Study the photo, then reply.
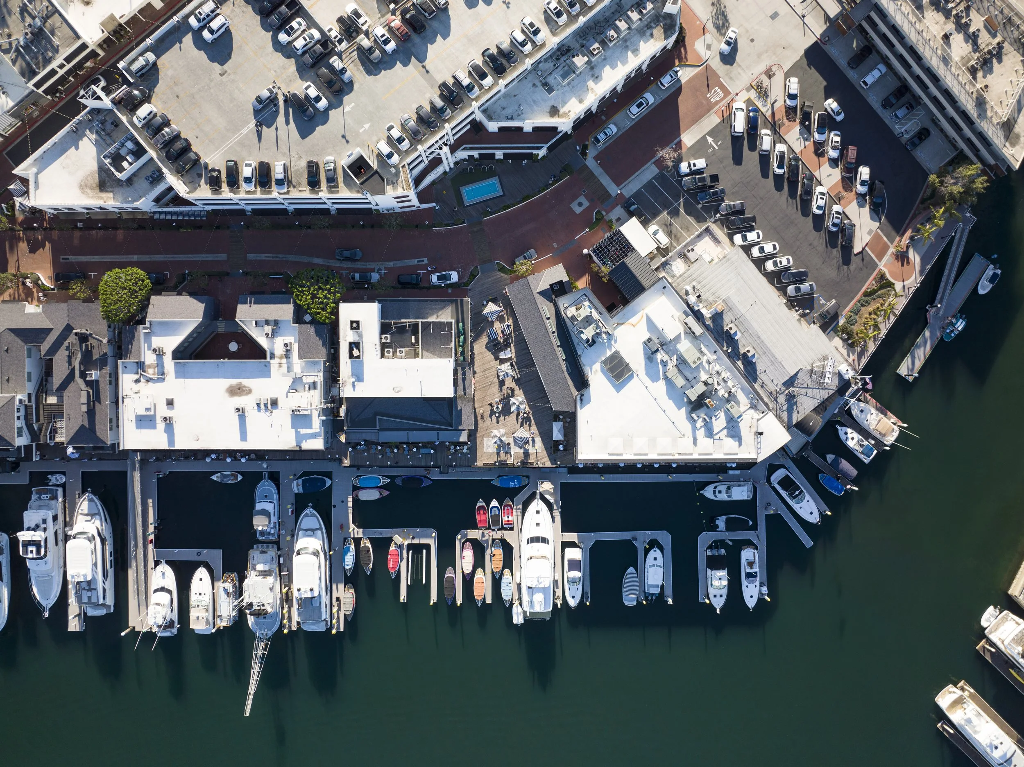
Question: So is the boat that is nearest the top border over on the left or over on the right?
right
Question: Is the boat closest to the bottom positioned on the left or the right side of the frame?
right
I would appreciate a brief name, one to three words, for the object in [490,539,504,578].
boat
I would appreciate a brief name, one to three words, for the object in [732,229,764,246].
car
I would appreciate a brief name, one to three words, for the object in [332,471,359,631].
pier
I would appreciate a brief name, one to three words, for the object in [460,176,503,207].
swimming pool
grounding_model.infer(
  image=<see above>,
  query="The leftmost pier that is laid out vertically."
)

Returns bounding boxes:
[65,471,85,631]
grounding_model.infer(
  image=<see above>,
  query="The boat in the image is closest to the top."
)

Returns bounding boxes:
[973,261,1000,294]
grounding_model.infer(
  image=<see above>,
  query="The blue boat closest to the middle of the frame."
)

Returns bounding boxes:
[491,474,529,488]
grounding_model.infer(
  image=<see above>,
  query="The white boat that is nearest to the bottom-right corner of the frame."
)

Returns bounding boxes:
[926,679,1022,767]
